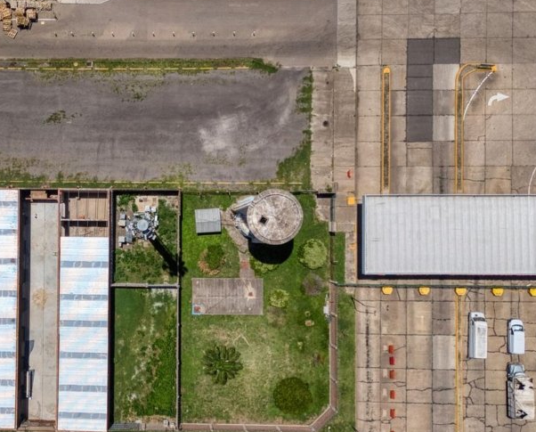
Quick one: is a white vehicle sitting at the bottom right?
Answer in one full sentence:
Yes, you'll find a white vehicle at the bottom right.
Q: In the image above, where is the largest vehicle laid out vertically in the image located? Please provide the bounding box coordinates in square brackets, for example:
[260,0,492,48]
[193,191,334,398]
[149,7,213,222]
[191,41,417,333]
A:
[509,362,533,423]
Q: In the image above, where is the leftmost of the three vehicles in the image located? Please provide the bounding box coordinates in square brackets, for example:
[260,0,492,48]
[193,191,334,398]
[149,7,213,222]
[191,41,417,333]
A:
[469,311,488,359]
